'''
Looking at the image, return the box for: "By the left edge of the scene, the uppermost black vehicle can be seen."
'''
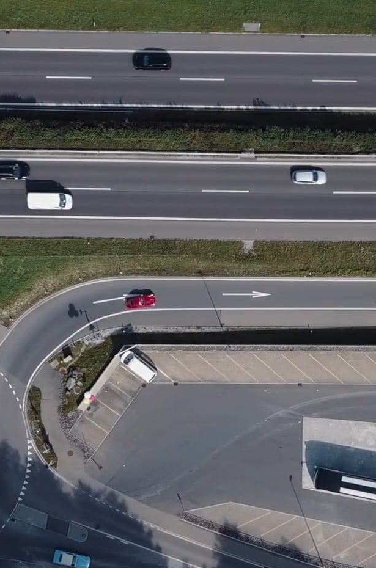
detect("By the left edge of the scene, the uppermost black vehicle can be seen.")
[0,163,30,180]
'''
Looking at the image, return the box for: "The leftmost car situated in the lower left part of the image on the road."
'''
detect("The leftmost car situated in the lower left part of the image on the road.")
[53,550,91,568]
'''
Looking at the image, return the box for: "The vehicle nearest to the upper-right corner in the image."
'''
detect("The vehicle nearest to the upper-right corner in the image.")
[292,168,327,184]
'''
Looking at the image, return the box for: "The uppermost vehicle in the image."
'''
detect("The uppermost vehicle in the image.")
[134,52,171,70]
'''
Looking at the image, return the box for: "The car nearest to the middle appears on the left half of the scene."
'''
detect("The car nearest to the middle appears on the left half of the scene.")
[125,293,157,308]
